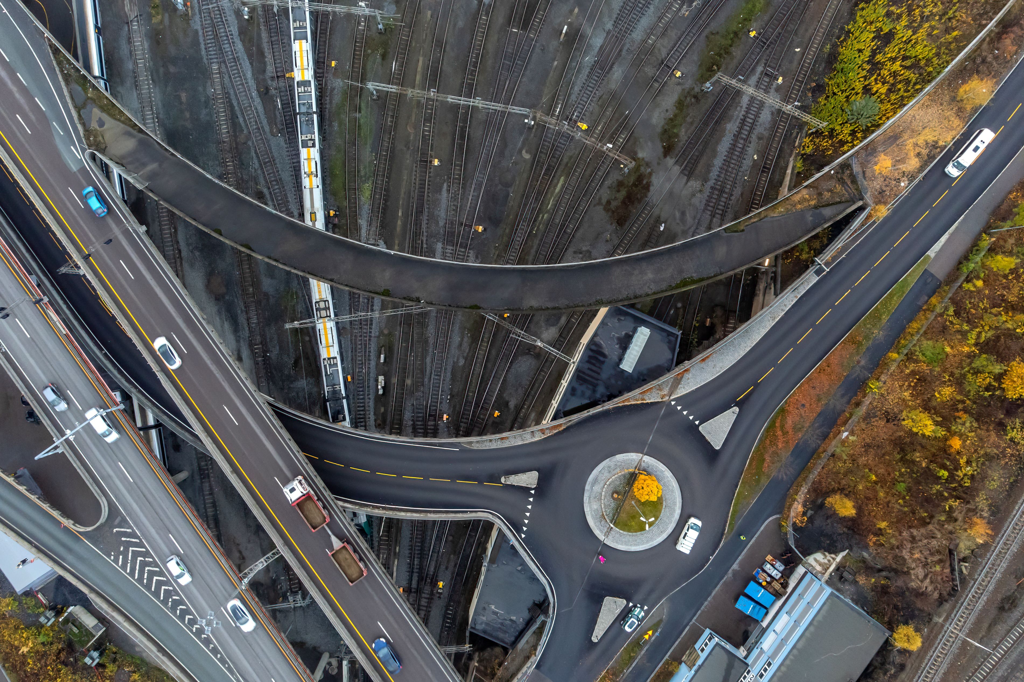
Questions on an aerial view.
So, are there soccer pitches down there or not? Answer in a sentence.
No, the scene contains no soccer pitch.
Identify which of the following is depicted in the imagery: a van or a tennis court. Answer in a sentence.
The image shows a van.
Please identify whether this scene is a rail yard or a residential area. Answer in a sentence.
It's a rail yard.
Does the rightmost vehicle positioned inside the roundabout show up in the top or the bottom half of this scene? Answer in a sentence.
You can find the rightmost vehicle positioned inside the roundabout in the bottom half.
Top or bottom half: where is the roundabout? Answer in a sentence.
The roundabout sits in the bottom half of the picture.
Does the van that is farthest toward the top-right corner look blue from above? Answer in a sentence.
No, the van that is farthest toward the top-right corner is actually white.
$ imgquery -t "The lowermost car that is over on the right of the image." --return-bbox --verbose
[623,607,645,635]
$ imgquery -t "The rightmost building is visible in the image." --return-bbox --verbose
[737,572,891,682]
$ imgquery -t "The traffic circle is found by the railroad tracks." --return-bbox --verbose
[432,388,755,682]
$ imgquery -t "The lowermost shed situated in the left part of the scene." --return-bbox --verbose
[59,600,112,649]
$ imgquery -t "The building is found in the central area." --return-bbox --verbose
[543,305,682,423]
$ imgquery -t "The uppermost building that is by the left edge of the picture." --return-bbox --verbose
[0,534,55,597]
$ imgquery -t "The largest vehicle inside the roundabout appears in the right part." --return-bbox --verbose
[677,517,703,555]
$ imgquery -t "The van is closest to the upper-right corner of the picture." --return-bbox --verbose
[938,126,996,180]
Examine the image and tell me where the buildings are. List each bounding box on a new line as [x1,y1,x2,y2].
[543,305,682,423]
[469,527,548,648]
[59,600,112,649]
[737,572,891,682]
[0,534,55,597]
